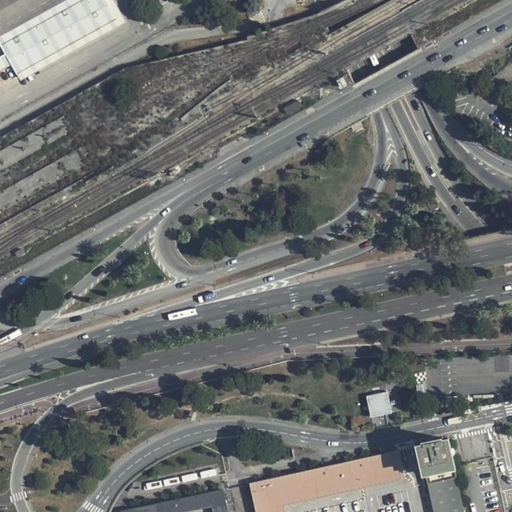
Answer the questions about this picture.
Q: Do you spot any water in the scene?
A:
No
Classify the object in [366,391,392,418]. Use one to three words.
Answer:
building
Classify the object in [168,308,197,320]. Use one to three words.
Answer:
vehicle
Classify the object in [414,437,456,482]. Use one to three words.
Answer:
building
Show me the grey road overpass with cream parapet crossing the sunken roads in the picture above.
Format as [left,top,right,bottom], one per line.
[338,48,432,132]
